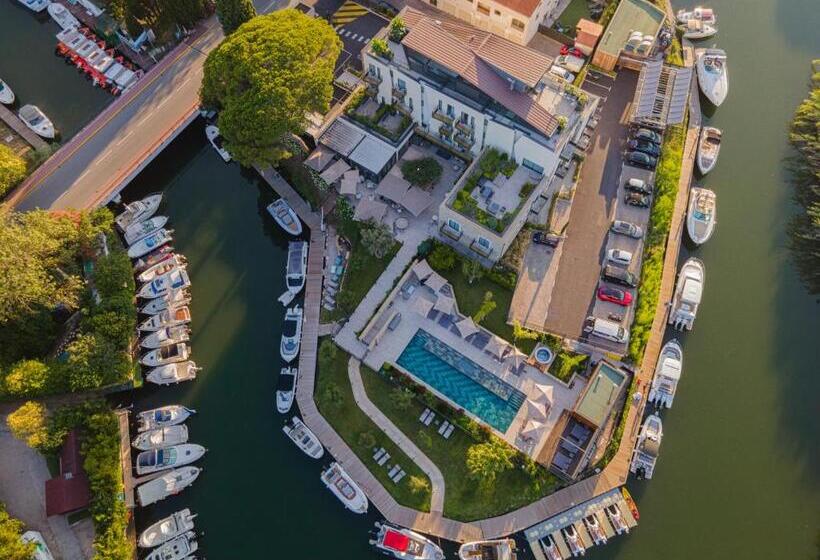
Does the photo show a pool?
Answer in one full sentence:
Yes, the frame does contain a pool.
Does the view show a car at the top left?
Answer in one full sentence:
No, there's no car to be seen at the top left.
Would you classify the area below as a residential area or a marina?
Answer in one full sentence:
The area seen from above is a marina.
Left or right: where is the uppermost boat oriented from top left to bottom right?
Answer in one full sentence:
The uppermost boat oriented from top left to bottom right appears in the left half of the scene.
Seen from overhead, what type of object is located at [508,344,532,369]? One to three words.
umbrella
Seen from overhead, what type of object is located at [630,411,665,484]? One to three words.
boat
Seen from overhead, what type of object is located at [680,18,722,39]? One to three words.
boat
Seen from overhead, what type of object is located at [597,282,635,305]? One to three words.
car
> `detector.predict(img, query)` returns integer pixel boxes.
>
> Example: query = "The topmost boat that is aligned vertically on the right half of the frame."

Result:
[696,45,730,109]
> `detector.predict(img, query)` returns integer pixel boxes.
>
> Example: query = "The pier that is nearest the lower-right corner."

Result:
[524,489,637,560]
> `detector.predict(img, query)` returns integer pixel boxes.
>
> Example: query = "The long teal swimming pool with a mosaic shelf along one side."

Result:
[392,324,529,437]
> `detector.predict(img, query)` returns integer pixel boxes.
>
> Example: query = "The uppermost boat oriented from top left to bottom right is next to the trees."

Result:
[46,0,83,30]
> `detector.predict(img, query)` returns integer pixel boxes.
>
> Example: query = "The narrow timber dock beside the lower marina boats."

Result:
[117,408,138,560]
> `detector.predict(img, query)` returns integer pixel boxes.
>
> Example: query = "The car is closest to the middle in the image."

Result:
[533,229,562,249]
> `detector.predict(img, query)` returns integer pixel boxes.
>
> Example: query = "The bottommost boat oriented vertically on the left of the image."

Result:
[276,365,298,416]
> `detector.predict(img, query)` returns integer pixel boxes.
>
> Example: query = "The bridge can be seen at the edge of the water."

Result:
[0,0,323,300]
